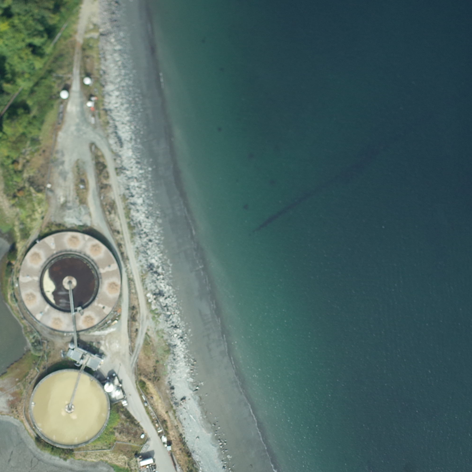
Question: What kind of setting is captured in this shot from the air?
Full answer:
This looks like an industrial area.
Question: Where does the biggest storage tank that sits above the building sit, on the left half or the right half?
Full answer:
The biggest storage tank that sits above the building appears in the left half of the scene.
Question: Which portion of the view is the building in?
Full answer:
The building sits in the bottom left section of the image.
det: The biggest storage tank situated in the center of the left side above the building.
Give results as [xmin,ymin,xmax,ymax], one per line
[19,230,121,331]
